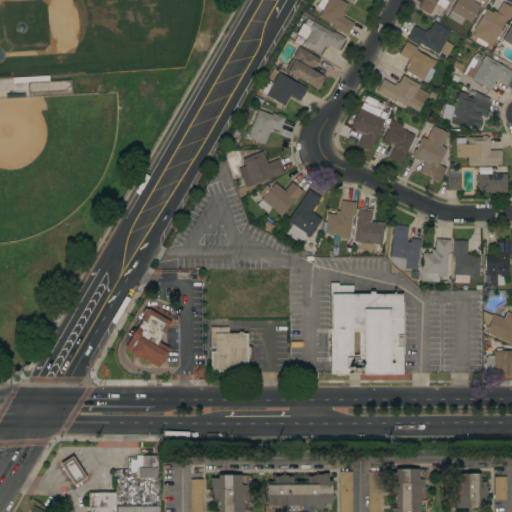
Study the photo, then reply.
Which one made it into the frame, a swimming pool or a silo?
swimming pool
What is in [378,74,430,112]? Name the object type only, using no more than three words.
house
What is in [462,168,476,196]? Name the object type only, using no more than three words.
swimming pool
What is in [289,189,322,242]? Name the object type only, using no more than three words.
house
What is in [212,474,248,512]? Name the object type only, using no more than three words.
building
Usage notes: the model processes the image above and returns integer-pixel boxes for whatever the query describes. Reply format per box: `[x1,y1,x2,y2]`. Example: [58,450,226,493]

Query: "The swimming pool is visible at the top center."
[277,40,300,66]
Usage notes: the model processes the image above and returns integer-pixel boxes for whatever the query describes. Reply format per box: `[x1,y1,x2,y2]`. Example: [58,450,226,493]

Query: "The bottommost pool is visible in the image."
[485,290,508,314]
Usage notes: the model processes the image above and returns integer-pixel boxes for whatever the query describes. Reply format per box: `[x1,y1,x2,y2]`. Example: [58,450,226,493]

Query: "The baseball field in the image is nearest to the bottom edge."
[0,91,118,244]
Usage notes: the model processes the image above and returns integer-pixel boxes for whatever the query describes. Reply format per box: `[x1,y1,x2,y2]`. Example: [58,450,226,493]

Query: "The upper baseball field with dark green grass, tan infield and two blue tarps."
[0,0,206,77]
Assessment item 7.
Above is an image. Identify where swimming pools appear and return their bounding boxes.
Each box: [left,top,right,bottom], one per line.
[485,290,508,314]
[496,42,512,66]
[462,168,476,196]
[277,40,300,66]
